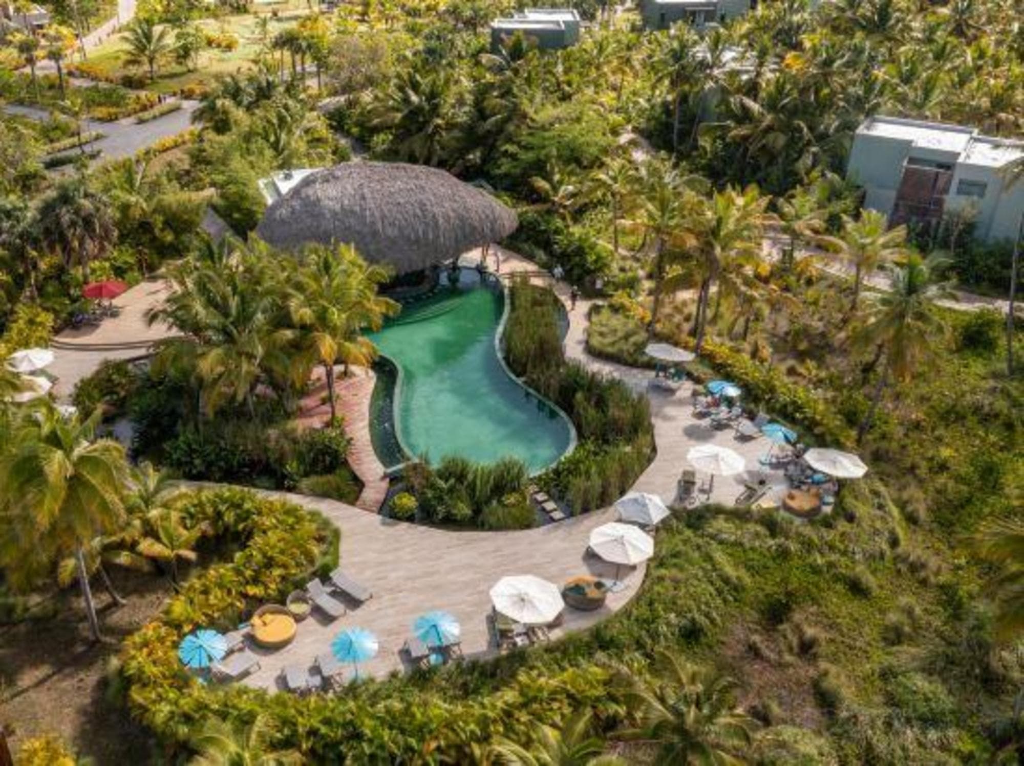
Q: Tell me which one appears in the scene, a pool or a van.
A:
pool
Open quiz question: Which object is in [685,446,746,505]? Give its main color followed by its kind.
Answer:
white umbrella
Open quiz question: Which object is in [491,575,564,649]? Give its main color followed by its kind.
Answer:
white umbrella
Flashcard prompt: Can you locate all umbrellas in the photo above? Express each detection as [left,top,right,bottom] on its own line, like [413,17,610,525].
[2,355,59,375]
[644,347,695,395]
[330,629,380,690]
[707,383,741,426]
[588,524,656,591]
[0,375,57,428]
[804,447,863,504]
[491,575,564,649]
[614,486,676,545]
[759,423,796,466]
[78,281,134,326]
[685,446,746,505]
[412,616,460,676]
